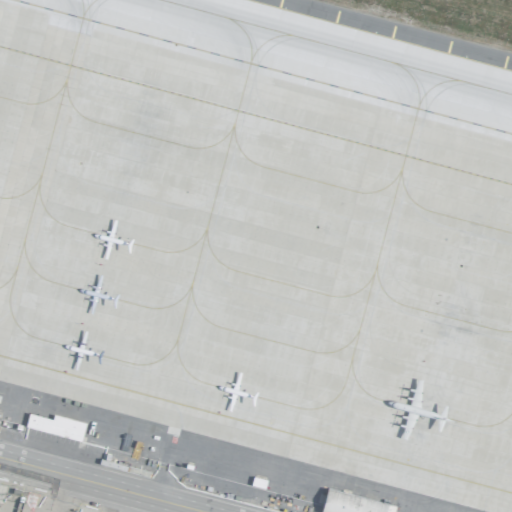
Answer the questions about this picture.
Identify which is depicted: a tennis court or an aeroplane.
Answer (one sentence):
It is an aeroplane that can be seen here.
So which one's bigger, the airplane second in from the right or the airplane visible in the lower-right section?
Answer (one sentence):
The airplane visible in the lower-right section is larger than the airplane second in from the right.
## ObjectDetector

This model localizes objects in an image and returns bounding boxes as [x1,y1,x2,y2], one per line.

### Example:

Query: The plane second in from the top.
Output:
[81,276,118,314]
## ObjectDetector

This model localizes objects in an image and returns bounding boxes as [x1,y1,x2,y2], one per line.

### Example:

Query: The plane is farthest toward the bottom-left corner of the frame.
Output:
[66,332,104,371]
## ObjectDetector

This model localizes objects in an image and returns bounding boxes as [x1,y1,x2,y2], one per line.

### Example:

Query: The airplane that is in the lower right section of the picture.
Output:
[388,380,456,440]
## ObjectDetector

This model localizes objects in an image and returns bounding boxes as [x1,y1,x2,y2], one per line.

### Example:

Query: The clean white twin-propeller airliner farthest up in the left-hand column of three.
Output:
[95,220,133,260]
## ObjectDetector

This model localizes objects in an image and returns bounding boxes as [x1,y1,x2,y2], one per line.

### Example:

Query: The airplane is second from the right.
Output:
[220,374,258,413]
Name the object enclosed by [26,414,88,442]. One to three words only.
building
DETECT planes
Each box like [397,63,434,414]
[66,332,104,371]
[388,380,456,440]
[95,220,133,260]
[81,276,118,314]
[220,374,258,413]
